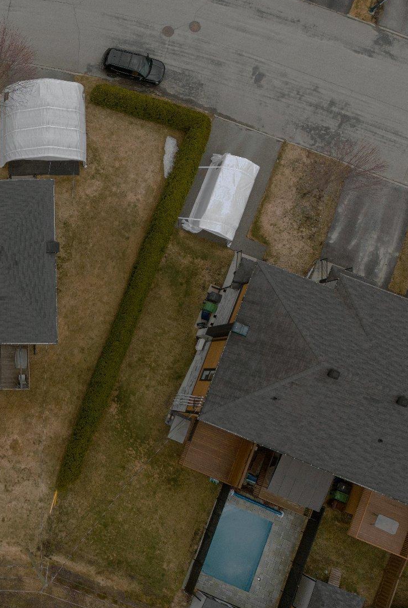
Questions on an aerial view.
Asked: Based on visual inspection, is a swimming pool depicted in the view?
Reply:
Yes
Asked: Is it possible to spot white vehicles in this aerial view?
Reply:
No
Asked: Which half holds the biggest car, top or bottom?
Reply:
top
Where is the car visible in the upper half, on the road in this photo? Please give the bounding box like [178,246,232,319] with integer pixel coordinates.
[98,45,166,88]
